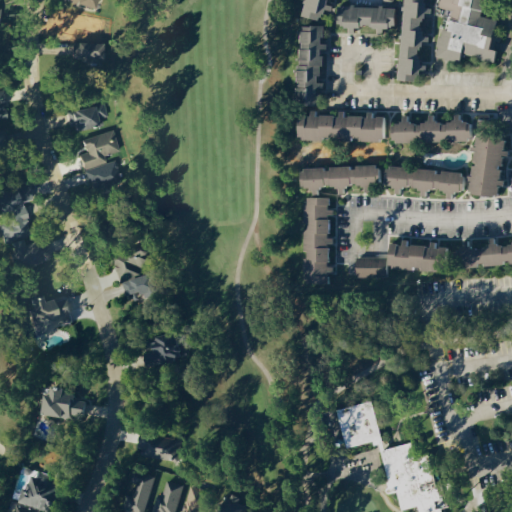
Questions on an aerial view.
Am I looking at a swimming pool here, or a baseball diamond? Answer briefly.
swimming pool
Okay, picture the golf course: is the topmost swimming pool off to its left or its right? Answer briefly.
right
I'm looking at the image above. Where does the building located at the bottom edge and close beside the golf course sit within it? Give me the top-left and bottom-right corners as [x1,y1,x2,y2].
[338,402,443,512]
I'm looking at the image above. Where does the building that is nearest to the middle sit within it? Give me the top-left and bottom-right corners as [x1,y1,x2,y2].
[302,197,334,288]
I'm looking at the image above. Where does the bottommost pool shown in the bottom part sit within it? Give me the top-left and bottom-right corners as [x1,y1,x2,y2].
[12,468,38,501]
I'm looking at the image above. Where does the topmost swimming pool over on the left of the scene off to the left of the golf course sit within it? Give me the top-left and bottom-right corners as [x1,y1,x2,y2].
[40,330,70,352]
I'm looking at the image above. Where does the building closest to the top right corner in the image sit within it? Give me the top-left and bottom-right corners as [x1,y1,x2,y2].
[436,0,498,62]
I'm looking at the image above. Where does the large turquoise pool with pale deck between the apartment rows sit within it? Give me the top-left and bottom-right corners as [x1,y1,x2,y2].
[424,150,472,170]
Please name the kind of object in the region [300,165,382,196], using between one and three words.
building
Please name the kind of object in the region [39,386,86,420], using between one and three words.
house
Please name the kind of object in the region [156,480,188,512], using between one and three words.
house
